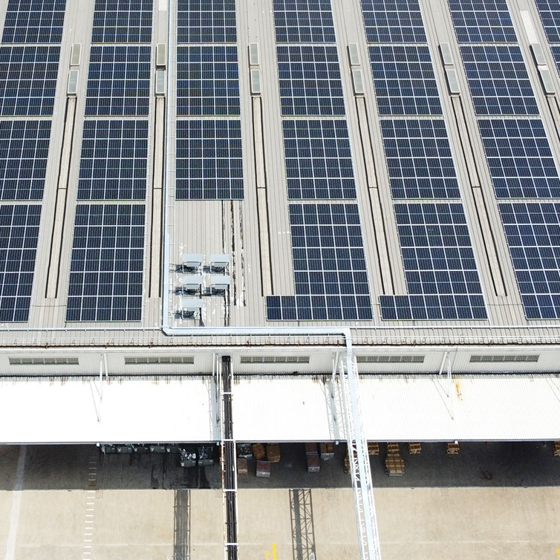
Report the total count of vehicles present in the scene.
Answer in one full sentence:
There are no vehicles in the image.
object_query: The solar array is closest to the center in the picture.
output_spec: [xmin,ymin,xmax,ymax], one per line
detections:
[264,204,373,319]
